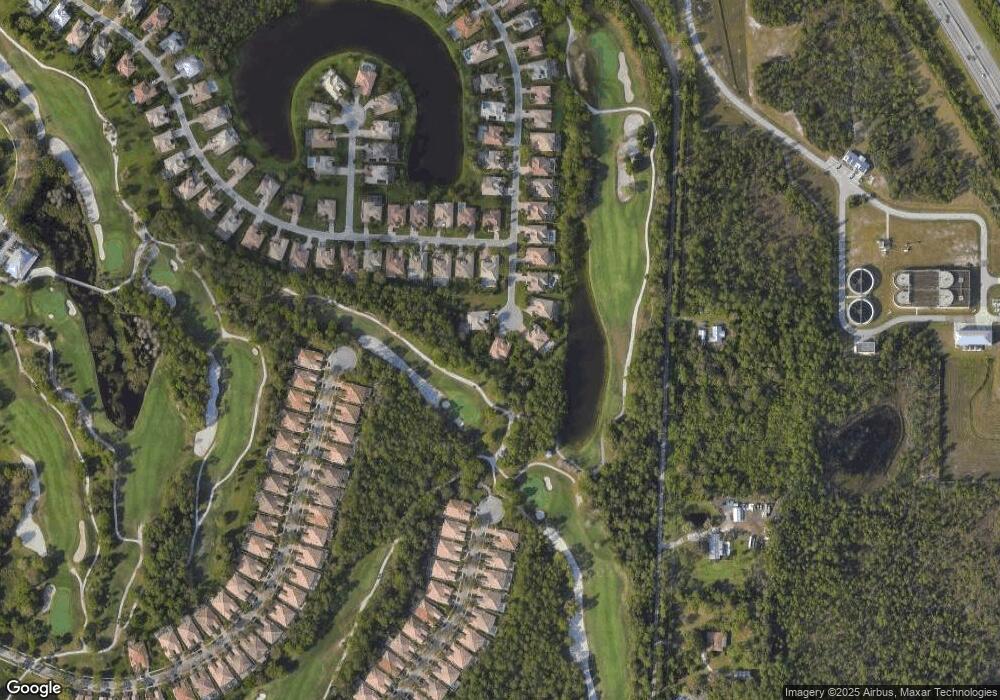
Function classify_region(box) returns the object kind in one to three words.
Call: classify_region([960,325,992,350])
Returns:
building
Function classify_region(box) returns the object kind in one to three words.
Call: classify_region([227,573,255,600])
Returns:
house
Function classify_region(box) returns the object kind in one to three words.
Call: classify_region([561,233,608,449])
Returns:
pond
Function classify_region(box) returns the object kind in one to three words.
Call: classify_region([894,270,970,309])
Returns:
storage tank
